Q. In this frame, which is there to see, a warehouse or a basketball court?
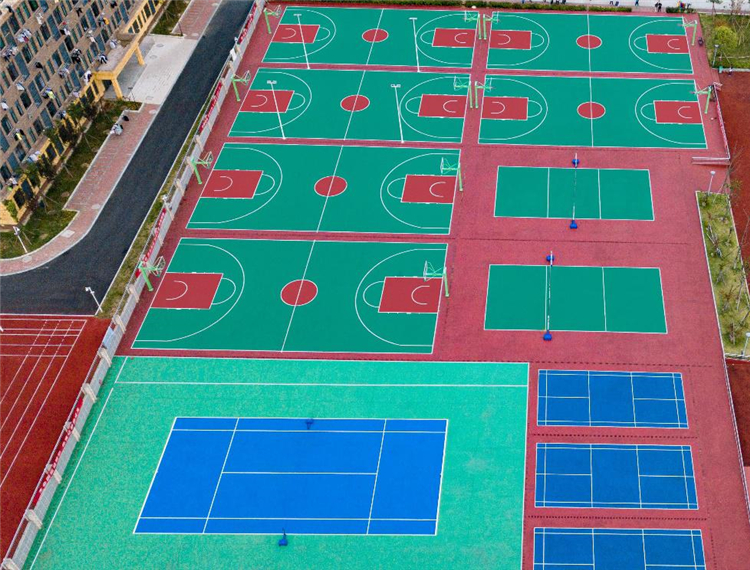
basketball court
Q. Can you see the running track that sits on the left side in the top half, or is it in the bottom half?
bottom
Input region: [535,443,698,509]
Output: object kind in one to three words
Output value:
sports court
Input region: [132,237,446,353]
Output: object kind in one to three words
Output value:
basketball court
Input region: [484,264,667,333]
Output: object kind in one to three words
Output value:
sports court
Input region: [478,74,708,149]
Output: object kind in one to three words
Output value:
basketball court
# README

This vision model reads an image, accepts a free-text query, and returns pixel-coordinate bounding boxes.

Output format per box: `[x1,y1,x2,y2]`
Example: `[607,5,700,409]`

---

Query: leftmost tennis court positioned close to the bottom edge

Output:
[21,356,529,570]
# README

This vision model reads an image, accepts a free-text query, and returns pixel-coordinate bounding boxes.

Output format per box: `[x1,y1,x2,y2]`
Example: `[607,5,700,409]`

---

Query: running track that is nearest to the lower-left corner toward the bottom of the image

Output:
[0,316,114,570]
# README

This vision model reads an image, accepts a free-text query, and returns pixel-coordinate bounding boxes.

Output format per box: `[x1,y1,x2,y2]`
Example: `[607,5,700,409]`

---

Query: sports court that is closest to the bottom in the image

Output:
[534,528,705,570]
